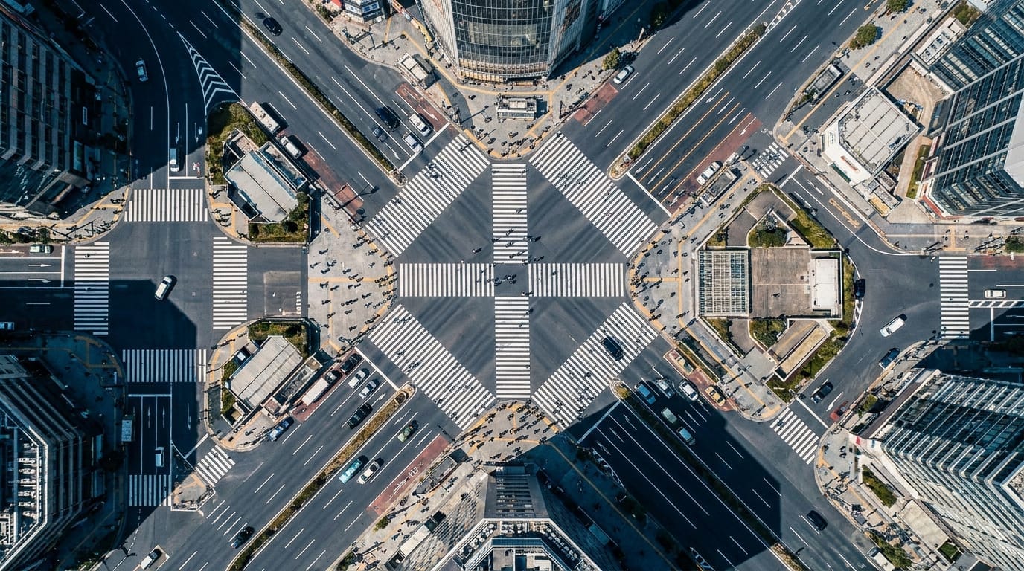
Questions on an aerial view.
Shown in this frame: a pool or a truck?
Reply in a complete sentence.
Looking from above, you can make out a truck.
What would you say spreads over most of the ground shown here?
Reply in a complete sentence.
The largest share of the image is taken up by paved ground.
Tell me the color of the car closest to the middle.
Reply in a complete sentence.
The car closest to the middle looks black in the image.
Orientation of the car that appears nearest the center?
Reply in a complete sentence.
The car that appears nearest the center is laid out at an angle.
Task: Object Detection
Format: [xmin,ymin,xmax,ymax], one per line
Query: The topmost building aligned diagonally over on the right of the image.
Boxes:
[900,17,966,76]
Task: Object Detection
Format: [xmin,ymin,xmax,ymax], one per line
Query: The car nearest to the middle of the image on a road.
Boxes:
[599,335,625,362]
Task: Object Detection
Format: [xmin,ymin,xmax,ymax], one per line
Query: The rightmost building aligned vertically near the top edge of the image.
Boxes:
[927,0,1024,219]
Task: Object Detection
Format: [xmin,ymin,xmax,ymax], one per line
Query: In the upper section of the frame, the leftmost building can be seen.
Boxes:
[0,0,91,218]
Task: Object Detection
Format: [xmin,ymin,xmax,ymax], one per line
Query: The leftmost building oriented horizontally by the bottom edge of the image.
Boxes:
[391,467,617,571]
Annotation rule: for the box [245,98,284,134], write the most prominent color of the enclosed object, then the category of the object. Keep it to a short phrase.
white bus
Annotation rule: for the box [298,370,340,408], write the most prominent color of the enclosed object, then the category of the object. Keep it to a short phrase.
white truck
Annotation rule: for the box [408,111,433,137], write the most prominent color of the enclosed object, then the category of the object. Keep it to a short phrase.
white vehicle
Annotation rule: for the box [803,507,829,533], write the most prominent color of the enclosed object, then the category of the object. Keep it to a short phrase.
black car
